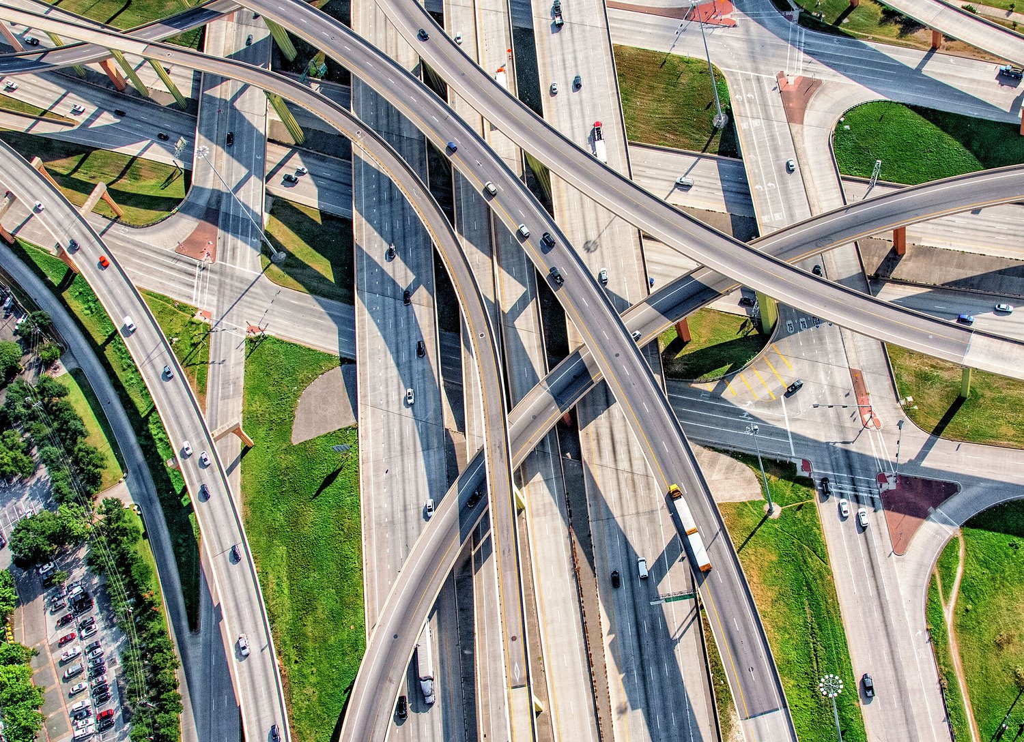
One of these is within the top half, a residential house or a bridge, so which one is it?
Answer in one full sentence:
You can see a bridge within the top half.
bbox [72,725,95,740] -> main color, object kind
white vehicle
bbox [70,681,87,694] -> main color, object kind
white vehicle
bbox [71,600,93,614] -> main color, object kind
black vehicle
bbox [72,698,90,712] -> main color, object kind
white car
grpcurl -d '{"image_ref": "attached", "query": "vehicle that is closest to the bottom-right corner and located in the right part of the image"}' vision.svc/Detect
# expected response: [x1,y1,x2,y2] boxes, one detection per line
[861,672,875,699]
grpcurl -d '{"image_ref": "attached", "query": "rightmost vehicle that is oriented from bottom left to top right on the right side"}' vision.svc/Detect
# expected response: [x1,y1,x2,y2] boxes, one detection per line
[781,376,804,394]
